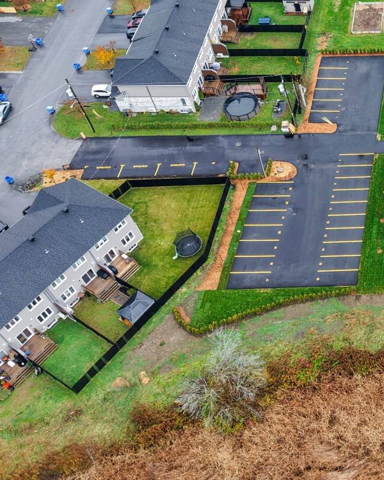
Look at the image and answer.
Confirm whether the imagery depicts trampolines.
Yes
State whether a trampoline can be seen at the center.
Yes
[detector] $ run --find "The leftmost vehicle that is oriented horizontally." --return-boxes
[85,82,117,96]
